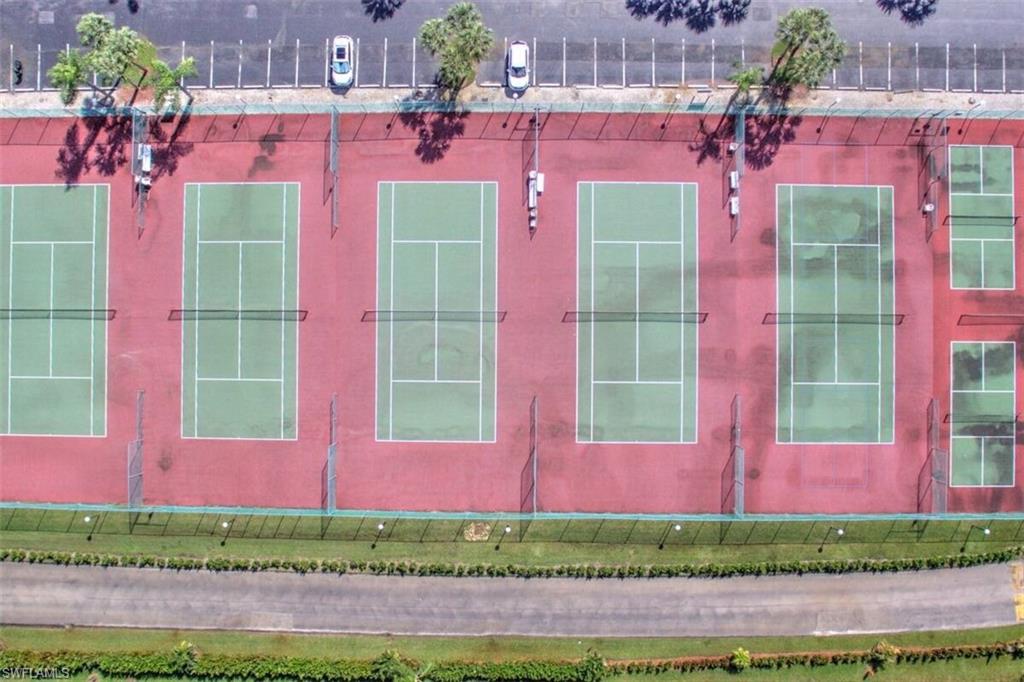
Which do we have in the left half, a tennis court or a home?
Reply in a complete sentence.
It is a tennis court that can be seen in the left half.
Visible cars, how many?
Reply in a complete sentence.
The picture shows 2 cars.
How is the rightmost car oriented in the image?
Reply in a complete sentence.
In this picture, the rightmost car is oriented from top to bottom.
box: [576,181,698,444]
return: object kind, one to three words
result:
tennis court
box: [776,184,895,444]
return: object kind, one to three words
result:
tennis court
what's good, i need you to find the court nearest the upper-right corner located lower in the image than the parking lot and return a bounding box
[949,145,1016,290]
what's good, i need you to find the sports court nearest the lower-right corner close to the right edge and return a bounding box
[951,341,1016,487]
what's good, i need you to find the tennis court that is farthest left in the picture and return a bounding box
[0,184,110,437]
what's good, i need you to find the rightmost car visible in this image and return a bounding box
[506,41,531,91]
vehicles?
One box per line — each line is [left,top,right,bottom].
[8,60,20,83]
[506,41,531,91]
[329,37,354,88]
